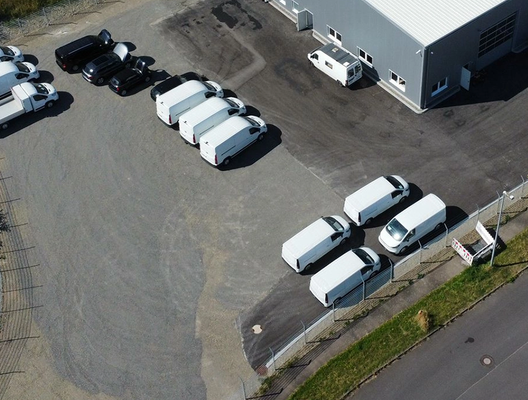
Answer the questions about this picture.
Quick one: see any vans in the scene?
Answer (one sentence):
Yes, the photo shows a van.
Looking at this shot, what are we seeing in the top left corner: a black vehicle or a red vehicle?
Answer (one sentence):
Looking in the top left corner, you will find a black vehicle.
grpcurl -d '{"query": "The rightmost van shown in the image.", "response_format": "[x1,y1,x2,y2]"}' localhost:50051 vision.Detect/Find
[378,188,450,255]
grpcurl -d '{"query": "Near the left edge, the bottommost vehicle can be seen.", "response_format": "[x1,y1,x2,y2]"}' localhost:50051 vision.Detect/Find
[0,80,59,130]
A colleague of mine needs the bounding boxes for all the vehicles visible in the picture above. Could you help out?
[155,65,207,96]
[179,94,247,146]
[0,58,41,96]
[81,39,136,85]
[341,175,411,230]
[0,42,26,61]
[313,41,366,86]
[103,59,151,97]
[198,112,267,166]
[306,245,383,308]
[280,213,353,275]
[51,24,115,72]
[378,188,450,255]
[157,78,224,128]
[0,80,59,130]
